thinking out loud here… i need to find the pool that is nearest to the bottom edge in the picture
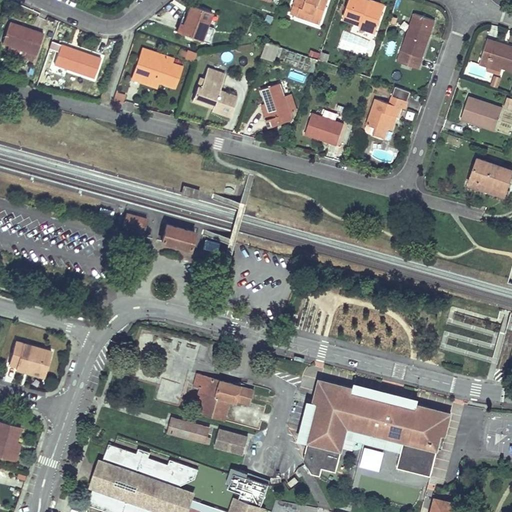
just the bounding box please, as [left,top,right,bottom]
[372,148,394,162]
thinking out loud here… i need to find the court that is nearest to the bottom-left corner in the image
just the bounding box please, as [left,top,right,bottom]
[194,465,230,508]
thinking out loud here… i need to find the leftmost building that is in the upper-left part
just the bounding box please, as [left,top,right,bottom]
[3,22,44,63]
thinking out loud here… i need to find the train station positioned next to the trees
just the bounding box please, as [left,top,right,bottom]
[164,225,197,262]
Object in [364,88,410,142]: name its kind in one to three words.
house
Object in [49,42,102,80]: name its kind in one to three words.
house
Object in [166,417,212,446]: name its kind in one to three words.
shed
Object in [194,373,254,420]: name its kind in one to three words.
building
